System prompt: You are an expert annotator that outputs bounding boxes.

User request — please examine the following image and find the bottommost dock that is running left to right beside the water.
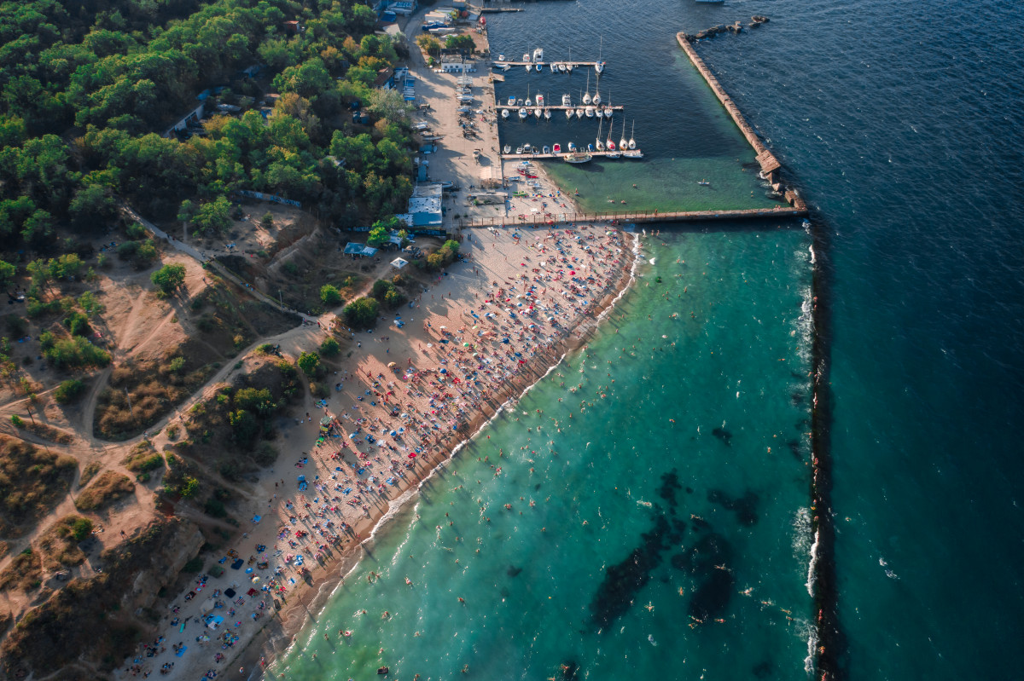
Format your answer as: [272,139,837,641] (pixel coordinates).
[453,207,809,225]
